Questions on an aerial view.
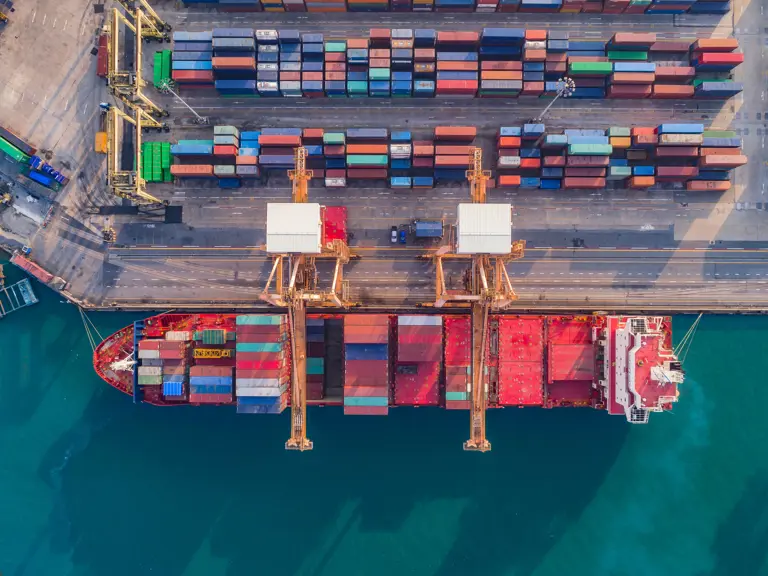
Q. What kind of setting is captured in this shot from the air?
port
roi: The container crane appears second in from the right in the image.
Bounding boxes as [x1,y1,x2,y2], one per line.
[256,147,361,452]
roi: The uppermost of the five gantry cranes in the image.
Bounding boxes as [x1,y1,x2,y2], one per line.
[114,0,170,29]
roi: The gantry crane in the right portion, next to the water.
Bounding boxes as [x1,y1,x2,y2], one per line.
[416,148,526,453]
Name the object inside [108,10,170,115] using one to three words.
container crane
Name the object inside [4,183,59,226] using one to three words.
shed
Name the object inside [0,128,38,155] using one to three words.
shipping container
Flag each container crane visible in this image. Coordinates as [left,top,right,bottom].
[108,110,170,205]
[108,10,170,115]
[114,0,170,29]
[256,147,361,452]
[416,148,526,453]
